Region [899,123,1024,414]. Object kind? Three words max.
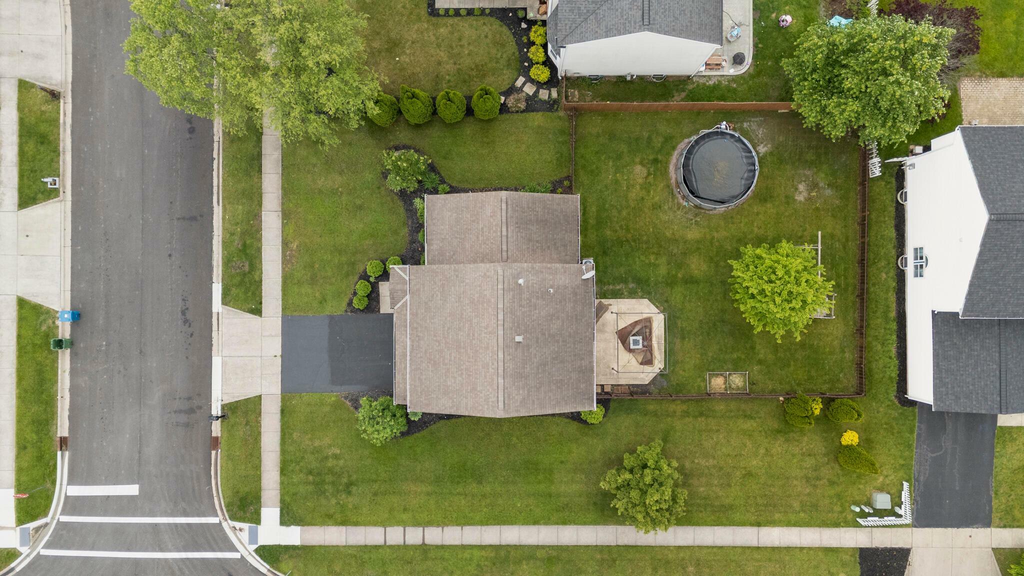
house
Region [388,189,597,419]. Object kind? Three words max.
house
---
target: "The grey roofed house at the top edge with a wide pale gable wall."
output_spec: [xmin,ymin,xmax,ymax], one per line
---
[547,0,724,83]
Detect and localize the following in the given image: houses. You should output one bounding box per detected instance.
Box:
[388,189,597,419]
[547,0,724,83]
[899,123,1024,414]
